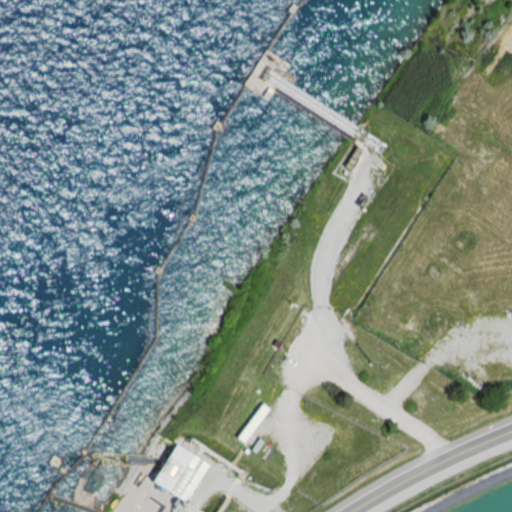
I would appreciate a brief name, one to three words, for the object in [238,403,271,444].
building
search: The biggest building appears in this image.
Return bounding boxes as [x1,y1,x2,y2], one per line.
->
[153,443,210,500]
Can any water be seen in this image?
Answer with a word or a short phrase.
Yes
